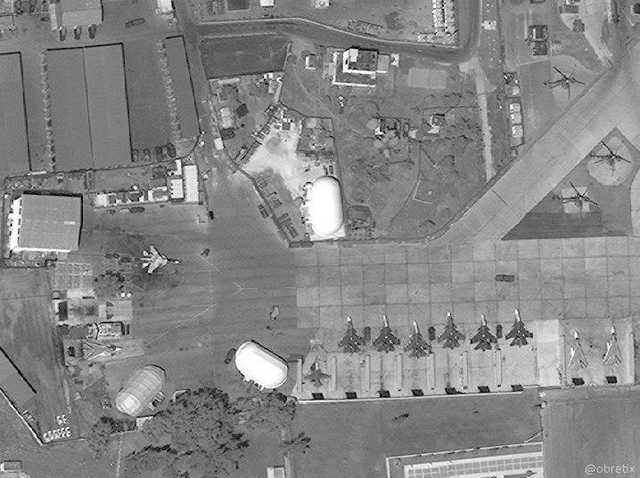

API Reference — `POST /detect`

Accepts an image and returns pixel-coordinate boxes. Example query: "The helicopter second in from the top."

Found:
[590,142,631,176]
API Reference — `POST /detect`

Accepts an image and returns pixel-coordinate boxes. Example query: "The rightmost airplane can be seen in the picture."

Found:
[605,326,622,364]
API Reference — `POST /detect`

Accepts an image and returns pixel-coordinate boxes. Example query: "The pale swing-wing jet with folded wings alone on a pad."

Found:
[84,342,122,360]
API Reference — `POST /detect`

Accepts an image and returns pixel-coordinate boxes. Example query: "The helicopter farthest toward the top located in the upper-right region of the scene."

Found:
[542,64,586,99]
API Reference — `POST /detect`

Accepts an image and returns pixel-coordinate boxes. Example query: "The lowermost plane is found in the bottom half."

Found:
[303,361,332,387]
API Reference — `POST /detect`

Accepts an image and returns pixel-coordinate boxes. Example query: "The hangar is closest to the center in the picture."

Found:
[303,177,342,236]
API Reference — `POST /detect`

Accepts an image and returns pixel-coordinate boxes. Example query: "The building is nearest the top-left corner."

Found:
[51,0,102,29]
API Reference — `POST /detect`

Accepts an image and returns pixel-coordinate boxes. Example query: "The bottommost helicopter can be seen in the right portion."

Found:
[557,182,598,217]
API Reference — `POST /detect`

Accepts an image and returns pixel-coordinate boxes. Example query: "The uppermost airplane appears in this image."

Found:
[141,247,181,274]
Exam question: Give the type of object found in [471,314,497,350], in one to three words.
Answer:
airplane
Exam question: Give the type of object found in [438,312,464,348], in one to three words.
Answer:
airplane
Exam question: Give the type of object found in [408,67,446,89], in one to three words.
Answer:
sports court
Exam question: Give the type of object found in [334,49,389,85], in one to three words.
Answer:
building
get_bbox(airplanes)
[84,342,122,360]
[438,312,464,348]
[404,321,431,357]
[569,331,587,368]
[605,326,622,364]
[141,247,181,274]
[374,316,399,352]
[338,317,364,352]
[506,310,532,346]
[303,361,332,387]
[471,314,497,350]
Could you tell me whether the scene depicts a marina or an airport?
airport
